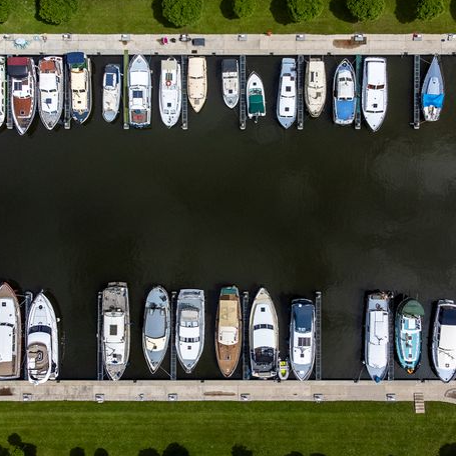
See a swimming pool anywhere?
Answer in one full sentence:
No, there's no swimming pool here.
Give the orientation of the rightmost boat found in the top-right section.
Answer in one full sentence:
Seen from above, the rightmost boat found in the top-right section lies up and down.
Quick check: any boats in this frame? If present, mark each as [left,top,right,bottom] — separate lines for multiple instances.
[356,293,392,383]
[279,358,289,379]
[0,283,25,383]
[428,298,456,383]
[302,51,328,117]
[214,286,244,383]
[127,53,155,128]
[247,288,281,383]
[102,283,133,382]
[7,53,39,133]
[330,53,358,126]
[274,55,298,127]
[186,57,209,111]
[288,298,317,383]
[101,53,124,121]
[247,52,265,122]
[359,52,389,132]
[24,292,63,386]
[219,56,241,106]
[69,52,94,122]
[37,55,66,129]
[416,52,444,123]
[0,53,10,128]
[391,297,424,379]
[175,289,206,383]
[158,53,184,127]
[142,285,178,383]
